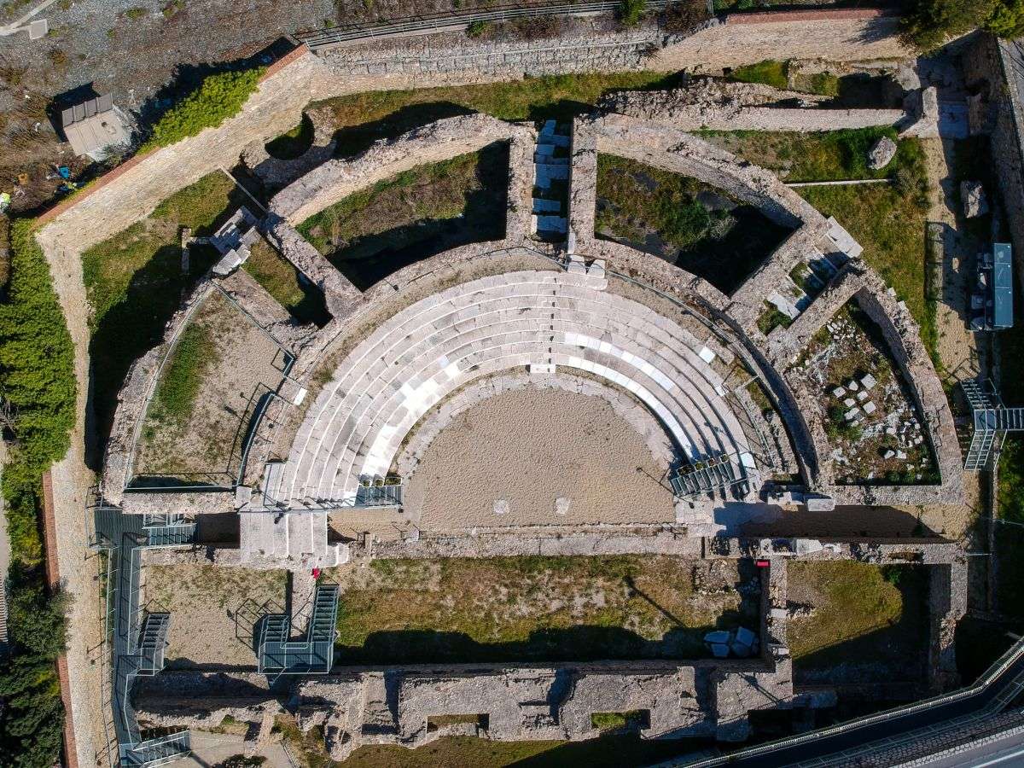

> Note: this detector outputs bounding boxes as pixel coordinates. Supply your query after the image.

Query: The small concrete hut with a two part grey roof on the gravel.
[62,93,144,164]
